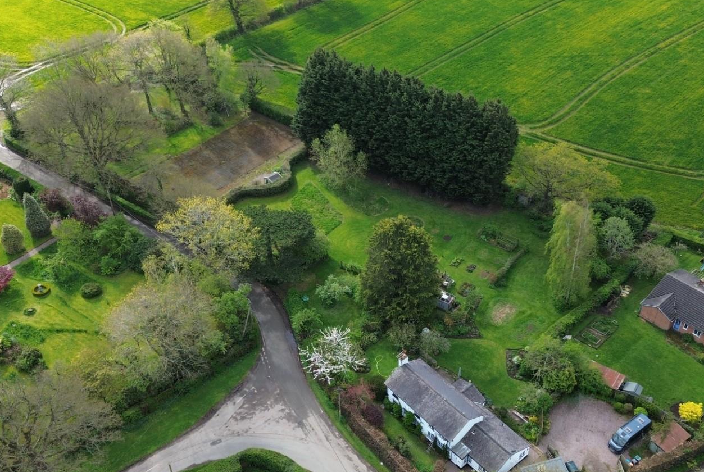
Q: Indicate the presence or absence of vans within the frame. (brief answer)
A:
Yes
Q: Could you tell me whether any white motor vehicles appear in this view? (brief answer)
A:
No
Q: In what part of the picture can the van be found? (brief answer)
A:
bottom right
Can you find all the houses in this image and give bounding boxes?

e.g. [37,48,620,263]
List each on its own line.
[384,352,529,472]
[640,271,704,348]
